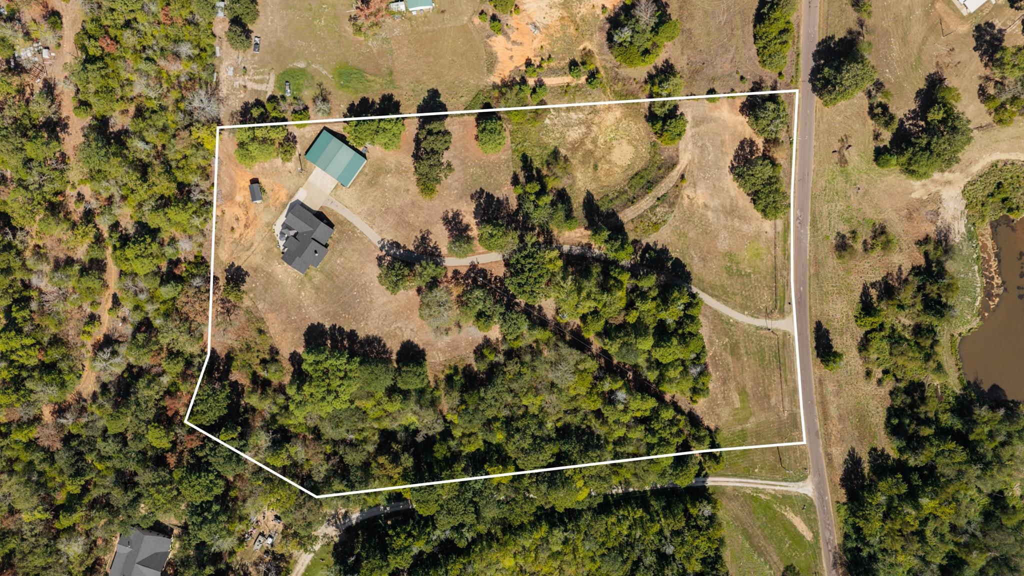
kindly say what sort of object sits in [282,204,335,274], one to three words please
house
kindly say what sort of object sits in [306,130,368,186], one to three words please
barn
